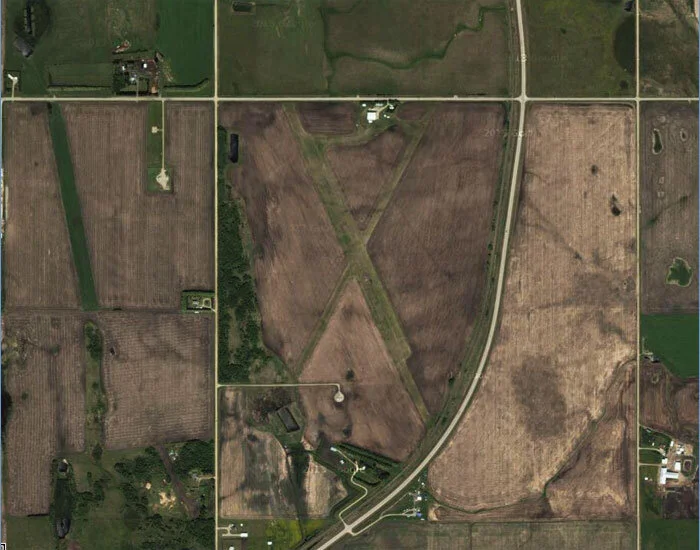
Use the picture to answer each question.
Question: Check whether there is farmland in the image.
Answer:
Yes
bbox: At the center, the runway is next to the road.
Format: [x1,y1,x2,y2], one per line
[282,102,435,426]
